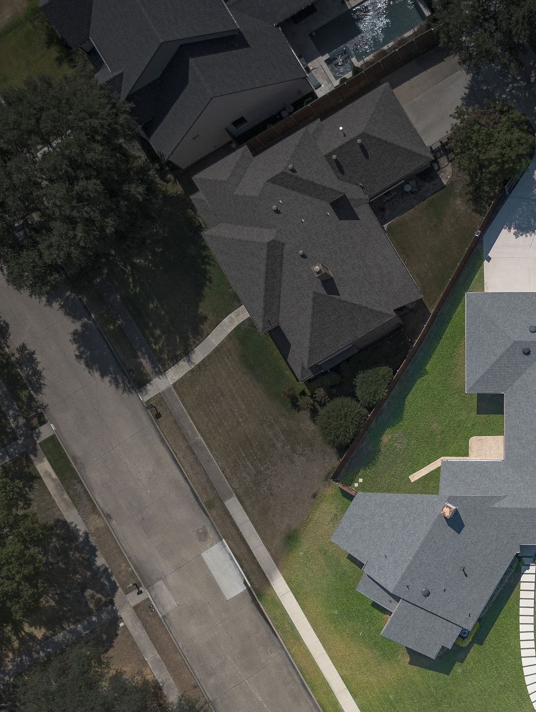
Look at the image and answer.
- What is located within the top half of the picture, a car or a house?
house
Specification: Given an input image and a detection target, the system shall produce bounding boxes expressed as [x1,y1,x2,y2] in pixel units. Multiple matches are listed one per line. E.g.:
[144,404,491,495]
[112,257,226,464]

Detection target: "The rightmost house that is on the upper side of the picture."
[191,82,433,383]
